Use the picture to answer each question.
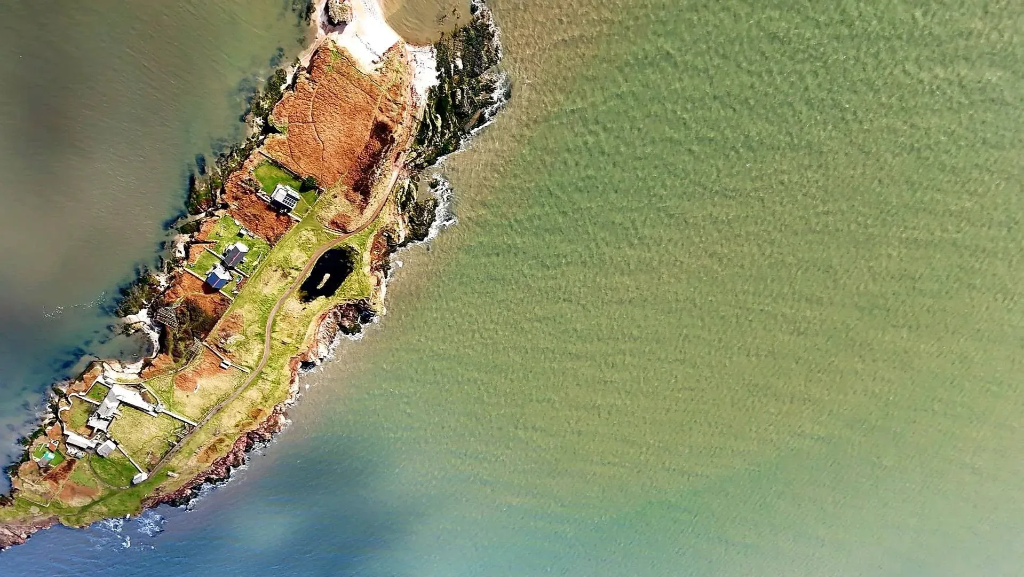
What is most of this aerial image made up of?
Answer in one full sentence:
For the most part, this view shows water.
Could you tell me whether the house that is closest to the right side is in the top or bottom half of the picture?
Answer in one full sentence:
The house that is closest to the right side sits in the top half of the picture.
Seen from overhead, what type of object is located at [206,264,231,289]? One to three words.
house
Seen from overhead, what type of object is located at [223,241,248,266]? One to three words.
house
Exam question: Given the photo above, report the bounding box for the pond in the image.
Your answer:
[298,245,353,301]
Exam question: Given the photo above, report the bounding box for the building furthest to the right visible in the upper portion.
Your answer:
[270,188,300,214]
